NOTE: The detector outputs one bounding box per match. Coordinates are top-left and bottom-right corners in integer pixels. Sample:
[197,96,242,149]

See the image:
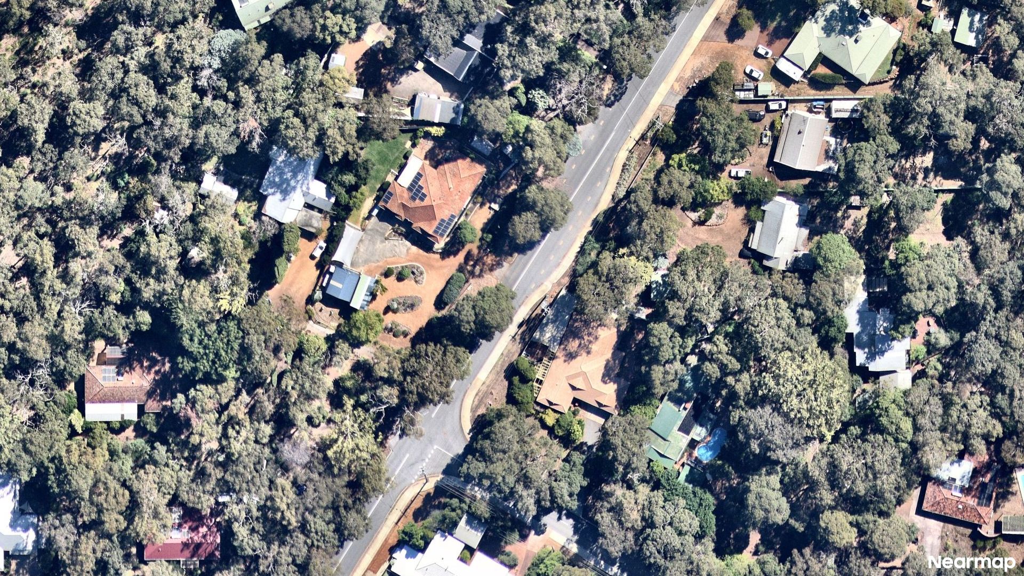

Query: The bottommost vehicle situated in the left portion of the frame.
[310,240,326,259]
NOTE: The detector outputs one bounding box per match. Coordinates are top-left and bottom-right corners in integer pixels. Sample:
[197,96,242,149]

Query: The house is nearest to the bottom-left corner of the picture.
[0,476,37,568]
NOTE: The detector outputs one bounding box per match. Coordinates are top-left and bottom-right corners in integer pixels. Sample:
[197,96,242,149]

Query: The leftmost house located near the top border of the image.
[228,0,295,32]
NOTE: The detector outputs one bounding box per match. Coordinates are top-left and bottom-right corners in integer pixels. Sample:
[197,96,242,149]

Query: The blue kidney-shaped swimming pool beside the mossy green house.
[699,429,724,461]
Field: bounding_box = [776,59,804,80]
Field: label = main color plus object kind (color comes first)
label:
white camper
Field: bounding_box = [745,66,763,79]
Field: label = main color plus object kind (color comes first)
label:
white vehicle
